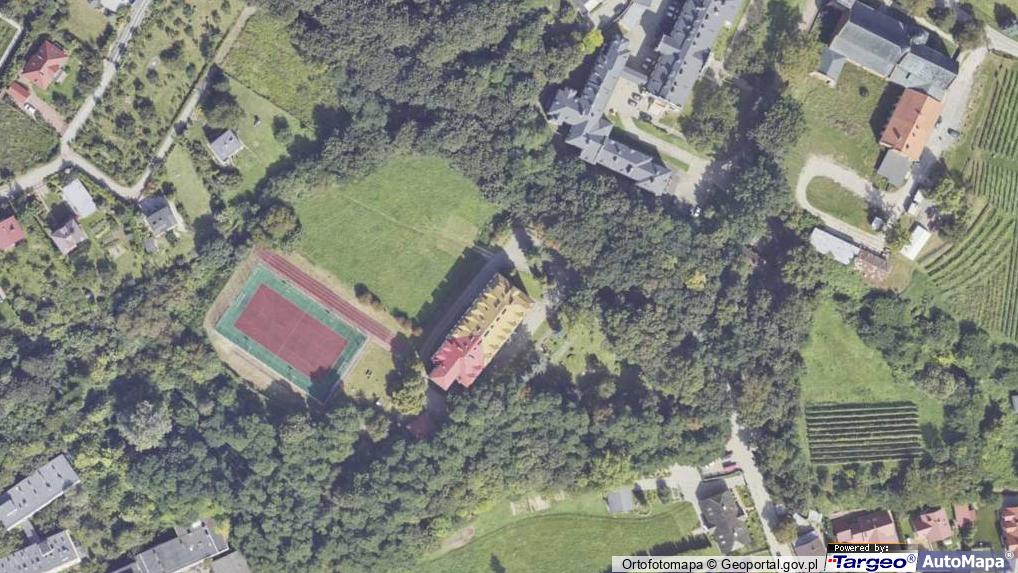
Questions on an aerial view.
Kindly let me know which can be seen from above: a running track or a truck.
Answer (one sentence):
Looking from above, you can make out a running track.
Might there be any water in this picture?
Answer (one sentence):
No, there is no water in the image.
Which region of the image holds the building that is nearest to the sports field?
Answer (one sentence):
The building that is nearest to the sports field sits in the center section of the image.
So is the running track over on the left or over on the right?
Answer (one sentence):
You can find the running track on the left side of the picture.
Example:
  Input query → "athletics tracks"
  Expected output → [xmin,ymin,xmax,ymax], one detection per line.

[255,249,399,350]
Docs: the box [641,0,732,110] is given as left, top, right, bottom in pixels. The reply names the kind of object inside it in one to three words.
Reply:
house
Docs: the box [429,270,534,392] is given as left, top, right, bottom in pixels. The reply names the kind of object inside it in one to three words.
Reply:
building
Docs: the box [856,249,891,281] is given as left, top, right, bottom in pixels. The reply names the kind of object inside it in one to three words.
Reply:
shed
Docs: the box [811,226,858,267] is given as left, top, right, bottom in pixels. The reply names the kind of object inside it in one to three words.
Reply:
shed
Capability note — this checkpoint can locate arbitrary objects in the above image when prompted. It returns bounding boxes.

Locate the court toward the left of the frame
[213,263,371,401]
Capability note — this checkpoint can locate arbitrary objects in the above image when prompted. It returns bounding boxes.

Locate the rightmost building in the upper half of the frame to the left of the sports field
[212,131,242,162]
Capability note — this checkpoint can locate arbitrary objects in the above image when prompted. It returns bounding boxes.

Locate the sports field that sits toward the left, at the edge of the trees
[297,152,495,322]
